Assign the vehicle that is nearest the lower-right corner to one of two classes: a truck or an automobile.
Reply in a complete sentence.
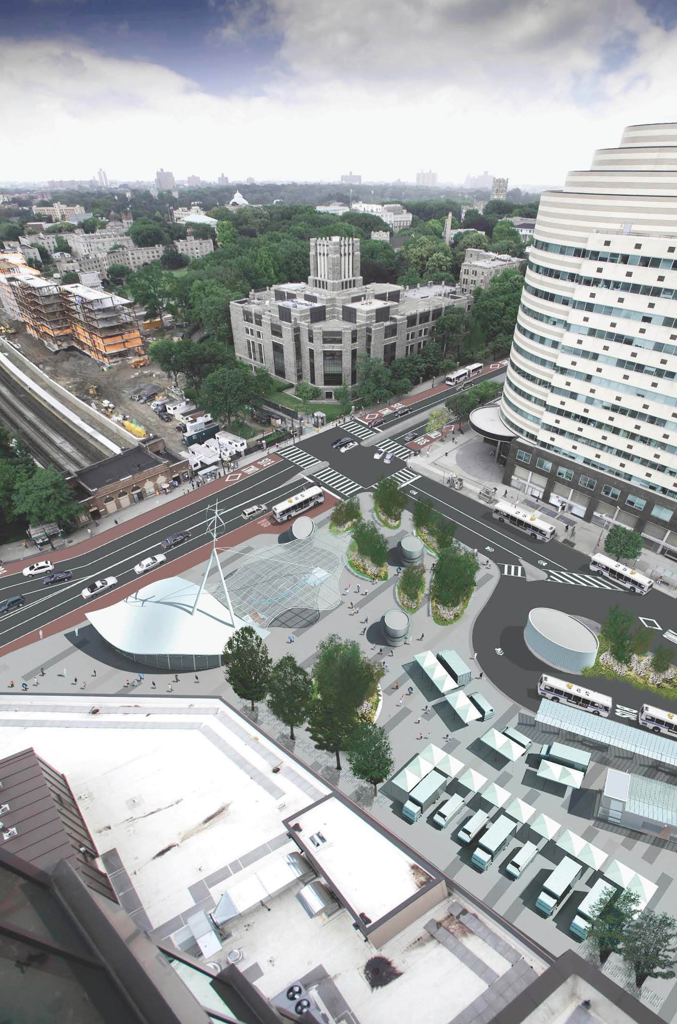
I'd say the vehicle that is nearest the lower-right corner is a truck.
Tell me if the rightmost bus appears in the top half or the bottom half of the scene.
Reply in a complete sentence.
The rightmost bus is in the bottom half of the image.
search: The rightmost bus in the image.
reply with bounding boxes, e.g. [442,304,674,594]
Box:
[639,698,677,736]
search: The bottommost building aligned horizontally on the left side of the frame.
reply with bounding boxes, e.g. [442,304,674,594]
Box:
[85,577,270,671]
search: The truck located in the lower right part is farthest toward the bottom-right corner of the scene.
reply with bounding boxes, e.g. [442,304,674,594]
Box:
[563,872,619,942]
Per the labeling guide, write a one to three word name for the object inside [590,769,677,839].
building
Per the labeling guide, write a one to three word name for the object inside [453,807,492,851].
van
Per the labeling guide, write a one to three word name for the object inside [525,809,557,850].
tent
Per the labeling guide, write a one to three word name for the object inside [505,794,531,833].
tent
